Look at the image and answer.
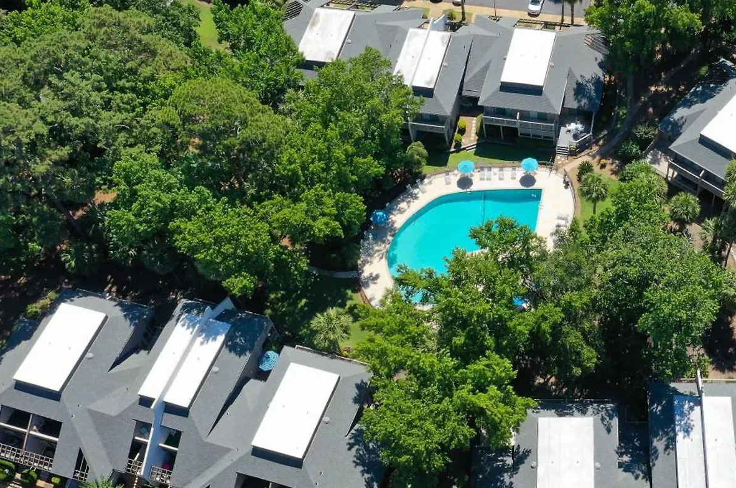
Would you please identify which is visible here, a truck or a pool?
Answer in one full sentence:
Visible in the photo is a pool.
